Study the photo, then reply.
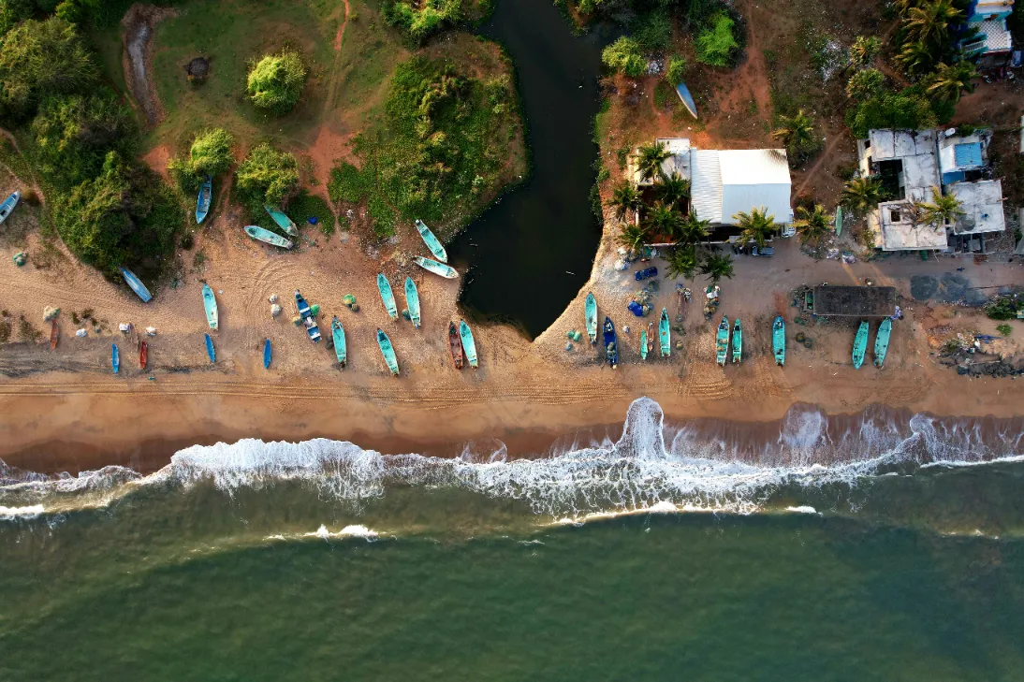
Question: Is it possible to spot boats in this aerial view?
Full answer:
Yes, there is a boat in the image.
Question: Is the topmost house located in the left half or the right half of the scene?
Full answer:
The topmost house appears in the right half of the scene.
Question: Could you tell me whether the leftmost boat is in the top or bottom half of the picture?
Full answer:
It is in the top half that the leftmost boat appears.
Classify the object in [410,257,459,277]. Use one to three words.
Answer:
boat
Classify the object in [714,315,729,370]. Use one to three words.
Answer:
boat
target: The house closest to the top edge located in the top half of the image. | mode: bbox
[957,0,1016,72]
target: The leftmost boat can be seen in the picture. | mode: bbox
[0,190,21,230]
